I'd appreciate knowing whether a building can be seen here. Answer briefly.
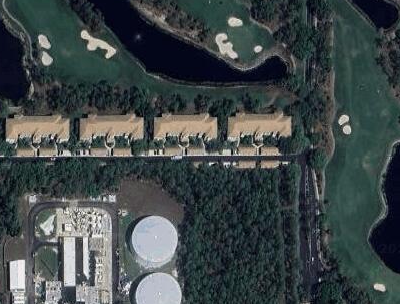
Yes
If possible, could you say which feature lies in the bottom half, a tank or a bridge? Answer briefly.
tank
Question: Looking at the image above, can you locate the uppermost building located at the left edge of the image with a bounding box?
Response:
[6,115,70,147]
